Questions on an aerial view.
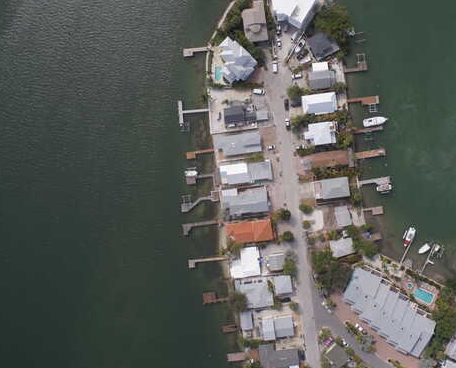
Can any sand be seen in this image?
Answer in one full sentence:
No, there is no sand in the image.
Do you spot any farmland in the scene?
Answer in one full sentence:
No, there's no farmland in this view.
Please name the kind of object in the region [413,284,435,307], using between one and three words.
swimming pool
